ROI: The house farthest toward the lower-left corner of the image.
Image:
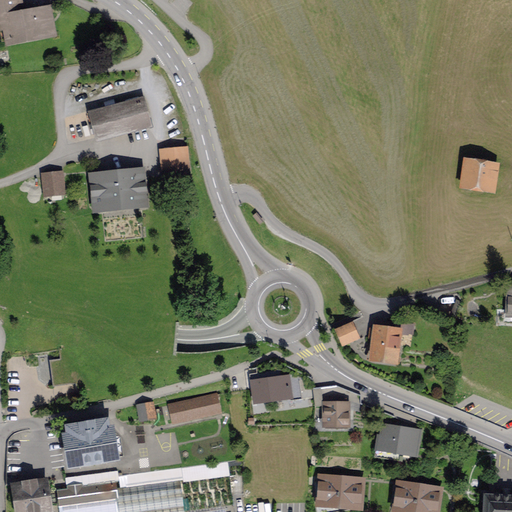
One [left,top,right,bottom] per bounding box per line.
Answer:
[10,477,54,512]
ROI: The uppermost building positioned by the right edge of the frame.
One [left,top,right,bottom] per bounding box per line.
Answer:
[459,157,500,194]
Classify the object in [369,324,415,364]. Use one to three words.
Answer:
house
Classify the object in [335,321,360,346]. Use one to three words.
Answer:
shed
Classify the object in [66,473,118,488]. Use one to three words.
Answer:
building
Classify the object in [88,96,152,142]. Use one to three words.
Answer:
barn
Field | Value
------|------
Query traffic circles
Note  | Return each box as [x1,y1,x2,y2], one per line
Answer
[245,269,320,344]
